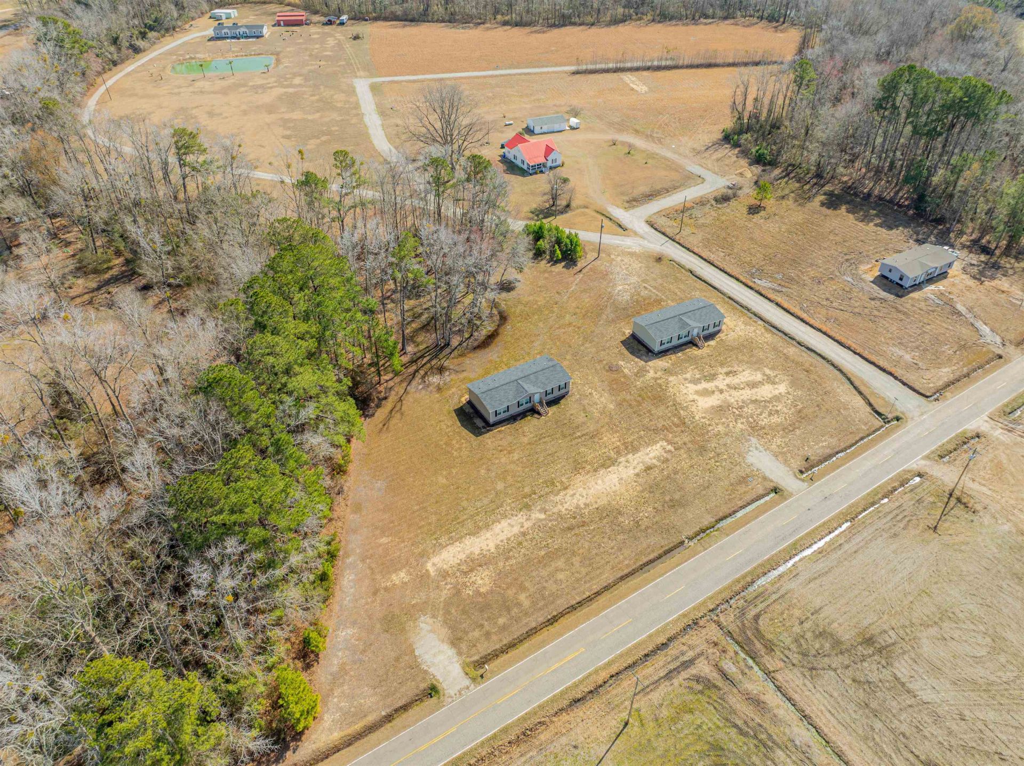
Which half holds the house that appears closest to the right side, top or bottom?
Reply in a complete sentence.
You can find the house that appears closest to the right side in the top half.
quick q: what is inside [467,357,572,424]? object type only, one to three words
house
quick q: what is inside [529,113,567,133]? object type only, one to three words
shed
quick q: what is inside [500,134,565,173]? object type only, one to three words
house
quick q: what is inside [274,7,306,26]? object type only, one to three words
barn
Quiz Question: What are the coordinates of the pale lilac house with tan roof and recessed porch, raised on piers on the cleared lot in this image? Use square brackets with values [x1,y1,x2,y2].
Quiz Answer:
[878,244,958,287]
